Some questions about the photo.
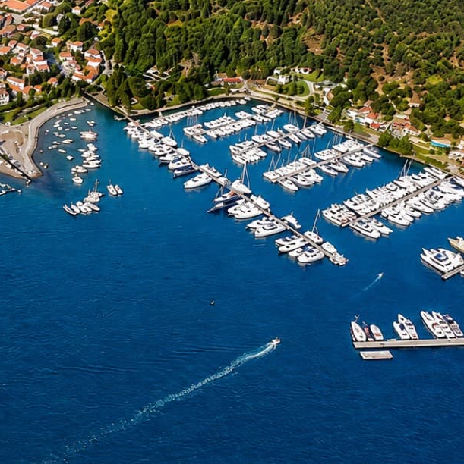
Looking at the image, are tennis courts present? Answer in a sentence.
No, I can't see a single tennis court in this photo.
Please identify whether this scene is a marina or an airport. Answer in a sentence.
It's a marina.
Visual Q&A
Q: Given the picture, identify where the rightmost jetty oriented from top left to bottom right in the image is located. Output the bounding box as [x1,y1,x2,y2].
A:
[115,108,347,262]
